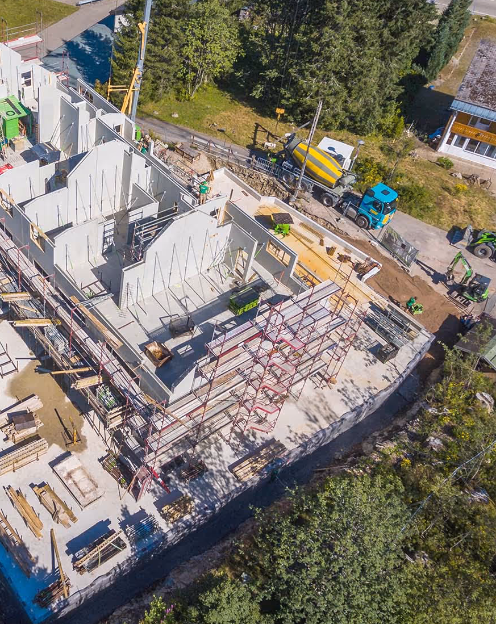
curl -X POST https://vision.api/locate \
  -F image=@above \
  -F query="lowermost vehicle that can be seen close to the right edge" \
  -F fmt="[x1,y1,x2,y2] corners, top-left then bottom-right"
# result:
[438,246,494,309]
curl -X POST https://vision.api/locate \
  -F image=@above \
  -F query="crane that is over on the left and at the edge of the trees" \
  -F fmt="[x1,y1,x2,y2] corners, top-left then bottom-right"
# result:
[83,0,153,154]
